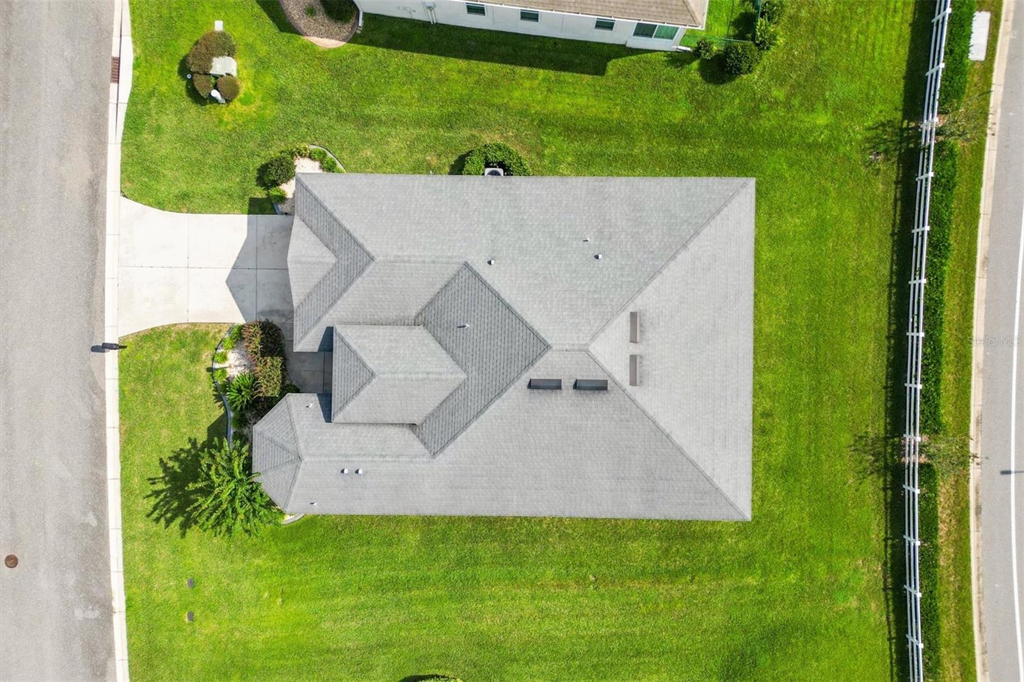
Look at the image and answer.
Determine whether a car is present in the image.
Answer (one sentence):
No, there appears to be no car in this shot.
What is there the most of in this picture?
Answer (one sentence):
The scene is dominated by grass.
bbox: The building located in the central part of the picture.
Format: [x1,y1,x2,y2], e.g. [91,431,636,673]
[252,172,756,520]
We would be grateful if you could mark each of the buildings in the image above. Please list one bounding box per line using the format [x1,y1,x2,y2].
[252,172,756,520]
[354,0,710,57]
